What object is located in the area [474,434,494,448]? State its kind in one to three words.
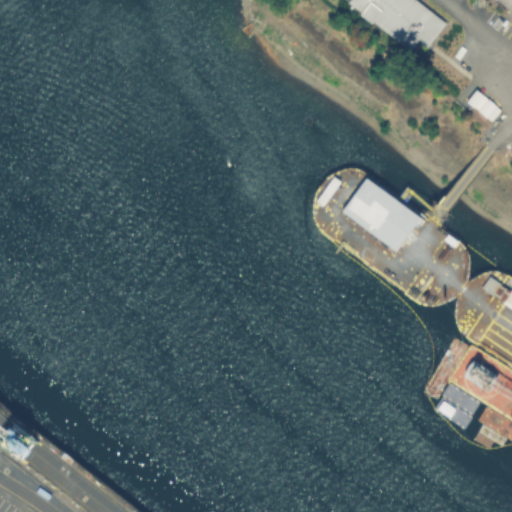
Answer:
ship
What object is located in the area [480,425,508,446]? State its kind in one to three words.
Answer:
ship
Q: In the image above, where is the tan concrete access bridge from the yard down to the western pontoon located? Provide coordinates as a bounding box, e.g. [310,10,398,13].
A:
[441,144,497,209]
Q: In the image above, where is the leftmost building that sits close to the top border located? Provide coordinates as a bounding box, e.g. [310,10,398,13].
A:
[352,0,448,57]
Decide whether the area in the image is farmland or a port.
port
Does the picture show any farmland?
No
